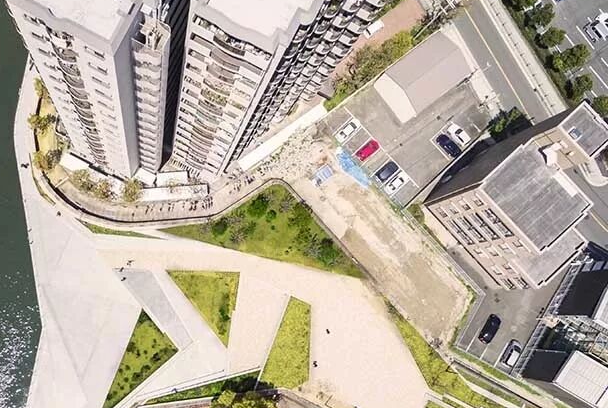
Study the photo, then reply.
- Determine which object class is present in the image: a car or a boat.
car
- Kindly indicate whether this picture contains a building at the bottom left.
No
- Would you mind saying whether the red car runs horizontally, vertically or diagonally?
diagonally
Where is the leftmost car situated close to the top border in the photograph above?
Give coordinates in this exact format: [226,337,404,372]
[362,20,385,40]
